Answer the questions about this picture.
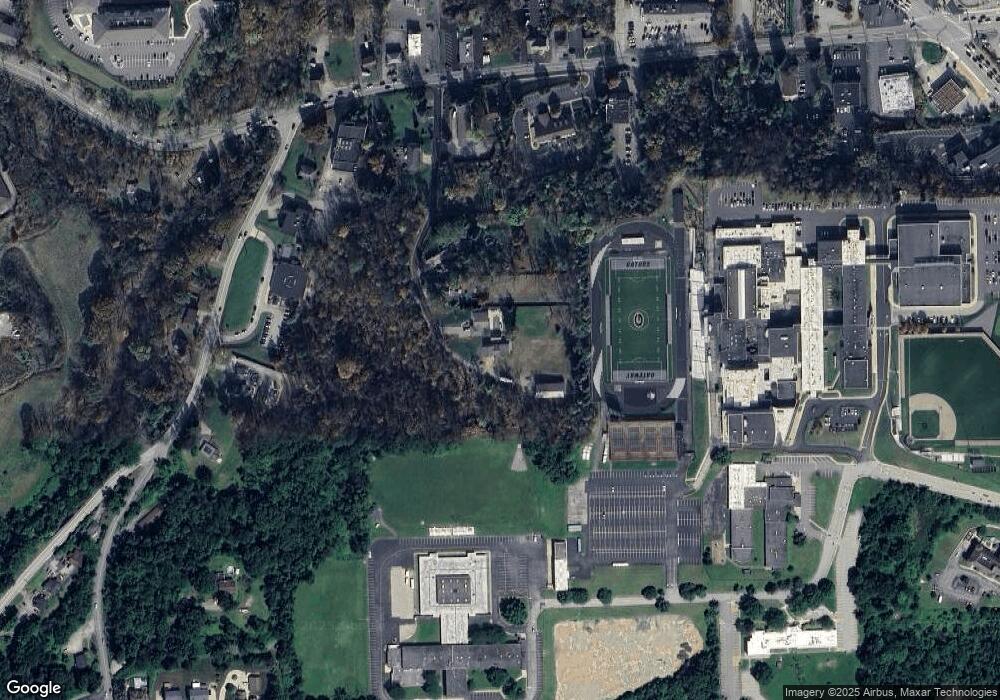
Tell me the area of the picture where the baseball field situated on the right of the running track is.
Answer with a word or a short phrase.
right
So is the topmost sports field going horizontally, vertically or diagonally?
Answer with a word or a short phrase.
vertically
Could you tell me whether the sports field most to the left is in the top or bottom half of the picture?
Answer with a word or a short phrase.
bottom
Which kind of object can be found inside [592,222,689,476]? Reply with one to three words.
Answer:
running track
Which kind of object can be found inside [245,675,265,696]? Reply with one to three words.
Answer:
house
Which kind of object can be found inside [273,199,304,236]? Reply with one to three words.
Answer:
building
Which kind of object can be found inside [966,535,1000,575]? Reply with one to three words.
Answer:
building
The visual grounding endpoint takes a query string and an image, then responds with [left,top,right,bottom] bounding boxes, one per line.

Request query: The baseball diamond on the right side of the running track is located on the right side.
[898,333,1000,444]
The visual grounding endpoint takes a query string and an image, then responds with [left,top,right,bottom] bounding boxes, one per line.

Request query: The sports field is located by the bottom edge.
[293,556,369,700]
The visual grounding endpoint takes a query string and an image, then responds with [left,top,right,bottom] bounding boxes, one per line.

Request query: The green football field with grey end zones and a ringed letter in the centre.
[605,256,672,384]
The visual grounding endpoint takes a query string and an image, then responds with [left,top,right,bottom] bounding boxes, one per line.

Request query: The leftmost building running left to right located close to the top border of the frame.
[93,3,171,40]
